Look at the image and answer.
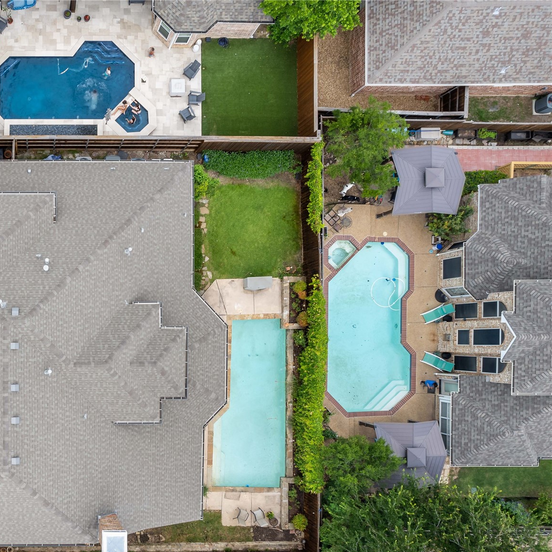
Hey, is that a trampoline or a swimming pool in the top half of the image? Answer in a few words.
swimming pool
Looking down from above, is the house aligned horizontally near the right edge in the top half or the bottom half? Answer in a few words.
top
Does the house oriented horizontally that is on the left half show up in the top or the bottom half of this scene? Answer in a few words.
top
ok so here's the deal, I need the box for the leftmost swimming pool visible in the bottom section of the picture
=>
[208,313,287,492]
